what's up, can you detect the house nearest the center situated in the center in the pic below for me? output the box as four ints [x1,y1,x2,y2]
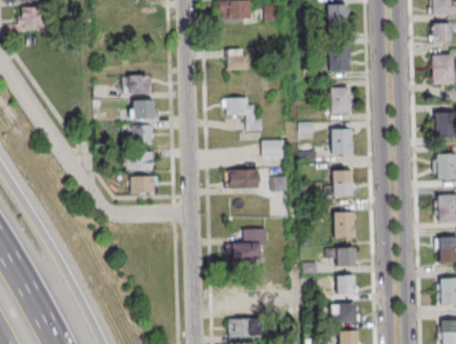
[224,169,260,188]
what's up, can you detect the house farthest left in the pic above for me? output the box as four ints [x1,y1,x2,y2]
[14,6,46,34]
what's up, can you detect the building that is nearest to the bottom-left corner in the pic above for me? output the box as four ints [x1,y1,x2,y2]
[130,176,159,197]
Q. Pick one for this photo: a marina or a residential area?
residential area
